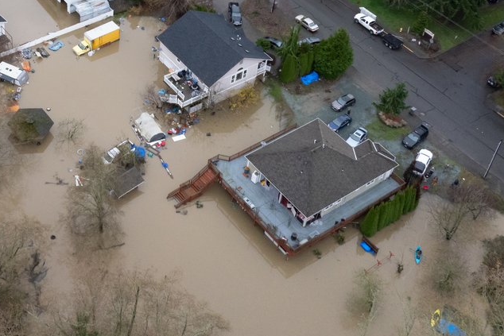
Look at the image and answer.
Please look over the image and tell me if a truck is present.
Yes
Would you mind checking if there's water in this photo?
Yes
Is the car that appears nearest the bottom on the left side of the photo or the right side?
right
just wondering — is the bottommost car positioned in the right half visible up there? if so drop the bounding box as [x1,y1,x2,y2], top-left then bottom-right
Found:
[414,145,436,171]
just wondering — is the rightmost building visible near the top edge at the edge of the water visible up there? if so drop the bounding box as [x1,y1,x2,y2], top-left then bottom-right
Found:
[155,11,273,107]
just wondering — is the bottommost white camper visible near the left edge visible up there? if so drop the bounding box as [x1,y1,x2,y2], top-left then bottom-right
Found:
[0,60,28,87]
